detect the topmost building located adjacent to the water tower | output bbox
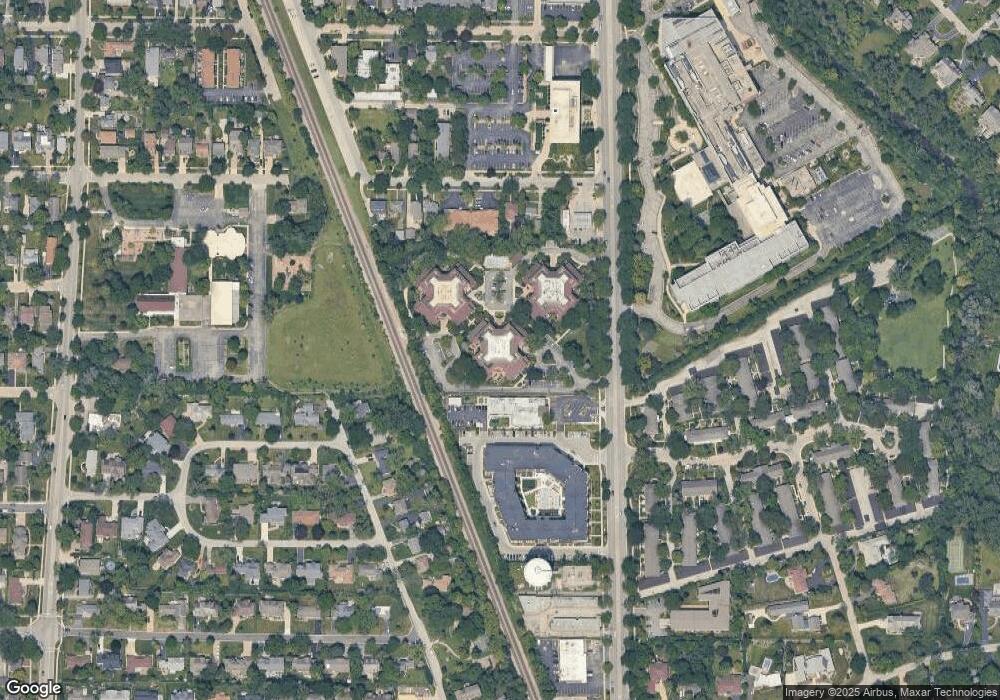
[484,442,590,546]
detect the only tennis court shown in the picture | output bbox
[947,538,965,573]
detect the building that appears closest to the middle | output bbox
[469,314,531,379]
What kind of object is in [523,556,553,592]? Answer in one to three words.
water tower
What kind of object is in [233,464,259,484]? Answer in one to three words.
house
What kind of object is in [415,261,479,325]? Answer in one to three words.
building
